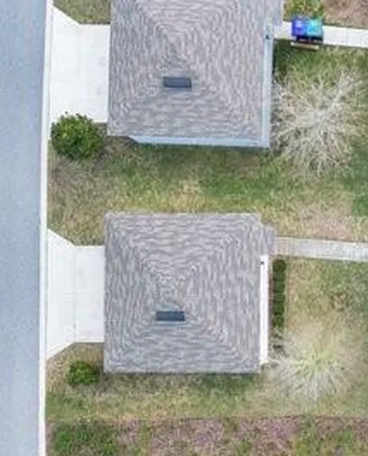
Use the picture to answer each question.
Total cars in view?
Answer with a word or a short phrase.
none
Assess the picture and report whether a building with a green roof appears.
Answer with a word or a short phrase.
No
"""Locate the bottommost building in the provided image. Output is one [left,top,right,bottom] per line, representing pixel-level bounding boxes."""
[104,211,277,374]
